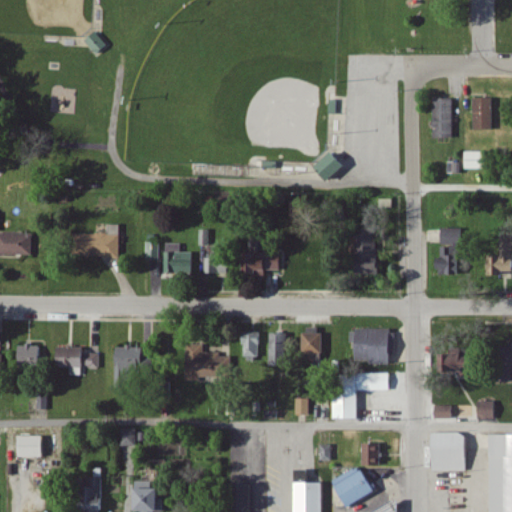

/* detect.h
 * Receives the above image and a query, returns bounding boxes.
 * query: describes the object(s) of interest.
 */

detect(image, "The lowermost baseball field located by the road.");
[246,78,326,158]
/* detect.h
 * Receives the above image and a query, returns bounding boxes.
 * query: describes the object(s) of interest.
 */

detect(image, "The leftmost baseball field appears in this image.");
[26,0,92,36]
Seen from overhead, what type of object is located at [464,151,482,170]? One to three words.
building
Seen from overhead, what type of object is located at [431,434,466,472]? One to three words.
building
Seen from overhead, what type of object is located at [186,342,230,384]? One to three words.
house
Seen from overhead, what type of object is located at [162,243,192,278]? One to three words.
house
